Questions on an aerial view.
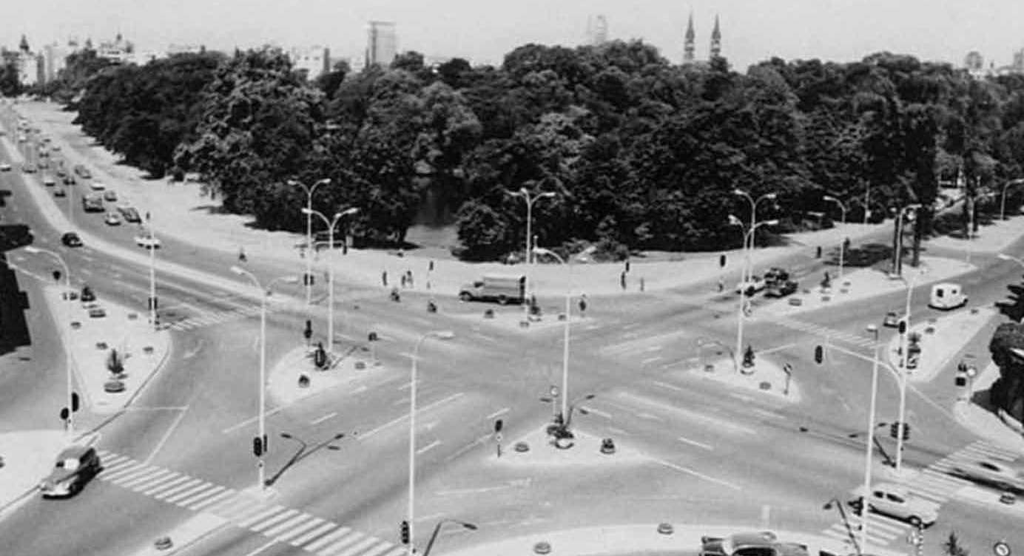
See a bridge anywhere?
No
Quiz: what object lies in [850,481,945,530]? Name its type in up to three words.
car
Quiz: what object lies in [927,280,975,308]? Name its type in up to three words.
van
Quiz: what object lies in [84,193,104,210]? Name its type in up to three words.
vehicle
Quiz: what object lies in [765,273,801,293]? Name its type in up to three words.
car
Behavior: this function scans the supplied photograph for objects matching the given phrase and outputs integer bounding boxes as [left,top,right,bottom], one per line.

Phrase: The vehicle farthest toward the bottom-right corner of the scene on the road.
[949,454,1024,491]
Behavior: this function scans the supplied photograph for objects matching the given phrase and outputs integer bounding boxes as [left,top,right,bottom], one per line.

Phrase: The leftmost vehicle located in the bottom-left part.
[39,441,106,487]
